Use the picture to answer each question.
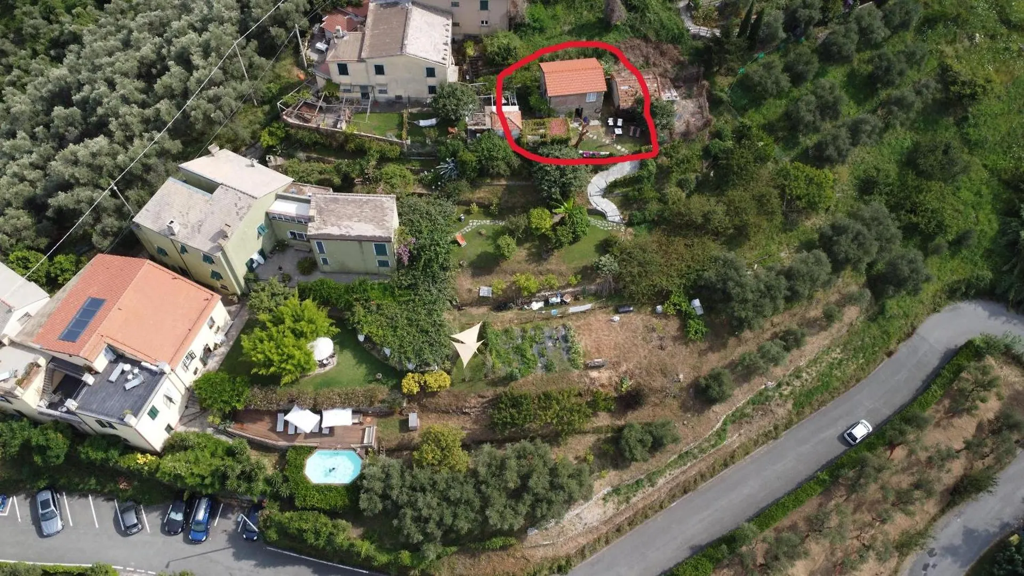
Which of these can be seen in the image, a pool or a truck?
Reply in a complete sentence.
It is a pool that can be seen here.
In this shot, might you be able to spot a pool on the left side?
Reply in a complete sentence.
Yes, a pool is visible on the left side.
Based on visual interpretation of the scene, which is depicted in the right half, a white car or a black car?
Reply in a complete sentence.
Visible in the right half is a white car.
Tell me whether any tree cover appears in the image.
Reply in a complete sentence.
Yes, there is tree cover in the image.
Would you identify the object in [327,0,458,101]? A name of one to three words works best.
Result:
house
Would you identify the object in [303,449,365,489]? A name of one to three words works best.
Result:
swimming pool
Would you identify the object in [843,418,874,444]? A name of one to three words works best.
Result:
car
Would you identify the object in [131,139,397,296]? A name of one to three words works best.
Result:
building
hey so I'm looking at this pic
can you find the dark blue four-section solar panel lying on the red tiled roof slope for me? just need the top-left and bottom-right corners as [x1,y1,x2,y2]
[57,296,105,342]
